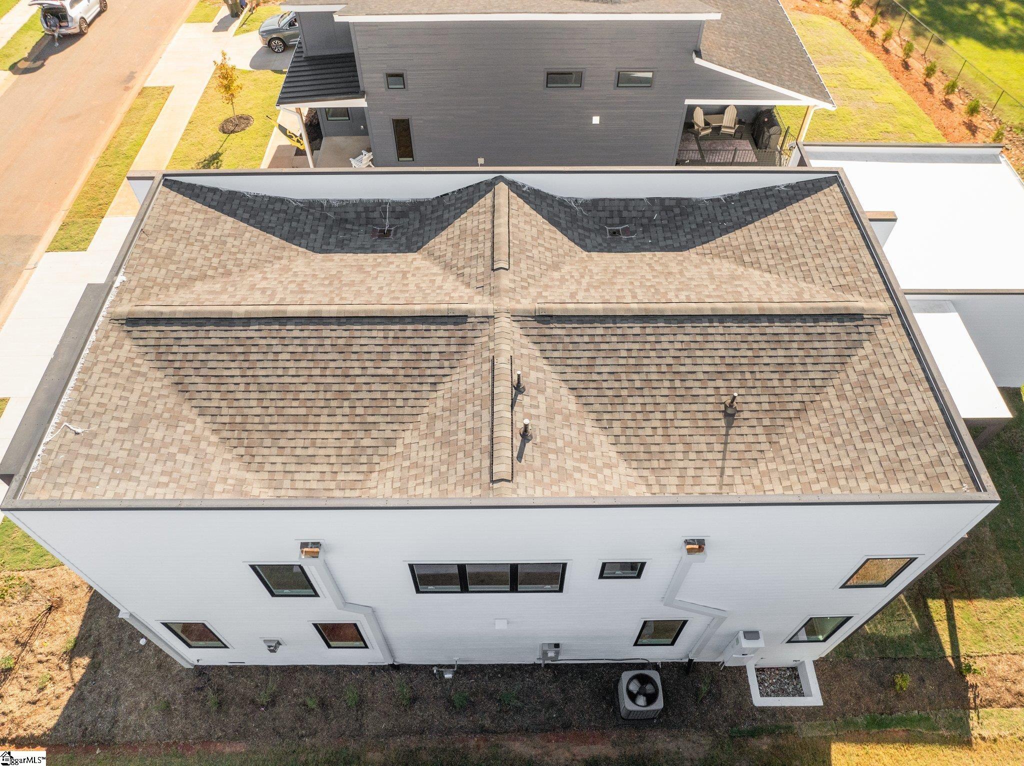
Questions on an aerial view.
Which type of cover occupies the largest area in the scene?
buildings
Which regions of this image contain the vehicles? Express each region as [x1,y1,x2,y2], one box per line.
[8,0,108,38]
[256,10,300,52]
